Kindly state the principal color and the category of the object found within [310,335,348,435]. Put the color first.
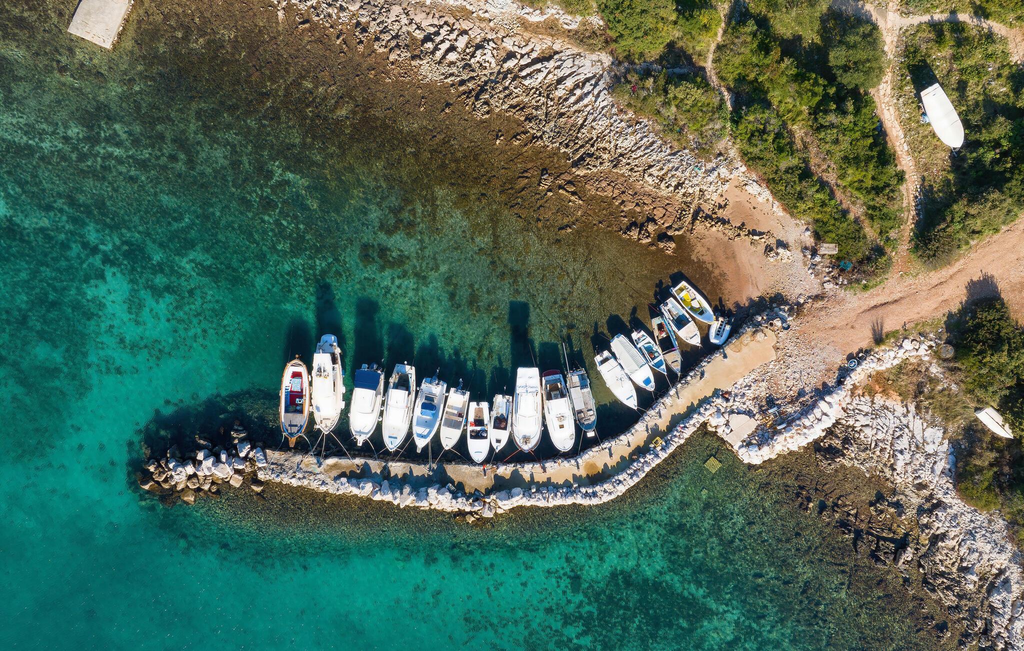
white boat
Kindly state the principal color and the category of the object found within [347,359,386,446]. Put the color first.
white boat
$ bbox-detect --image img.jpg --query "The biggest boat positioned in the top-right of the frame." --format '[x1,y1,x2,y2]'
[914,83,968,156]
